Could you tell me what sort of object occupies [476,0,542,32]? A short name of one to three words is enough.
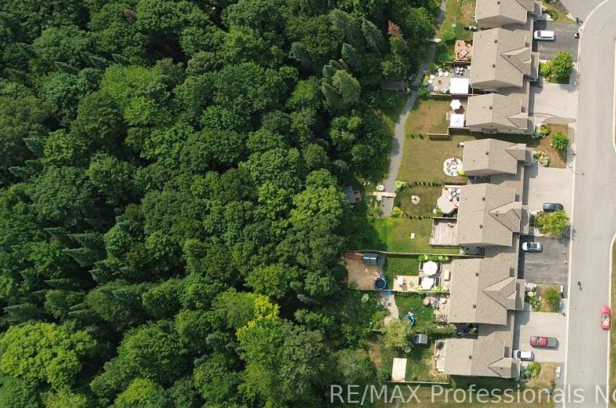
house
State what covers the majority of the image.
trees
